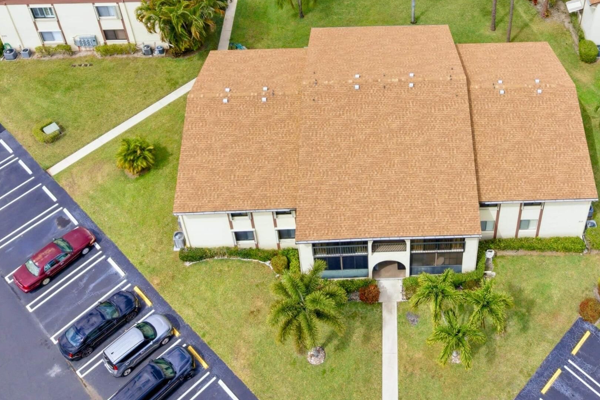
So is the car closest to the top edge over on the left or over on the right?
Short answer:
left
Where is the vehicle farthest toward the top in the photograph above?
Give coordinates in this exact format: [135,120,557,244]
[9,229,99,295]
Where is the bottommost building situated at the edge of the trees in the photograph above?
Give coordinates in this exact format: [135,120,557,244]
[173,25,597,276]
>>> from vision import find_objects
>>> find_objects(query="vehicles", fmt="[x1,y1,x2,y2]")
[105,348,193,400]
[50,289,143,367]
[95,309,179,383]
[9,229,99,295]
